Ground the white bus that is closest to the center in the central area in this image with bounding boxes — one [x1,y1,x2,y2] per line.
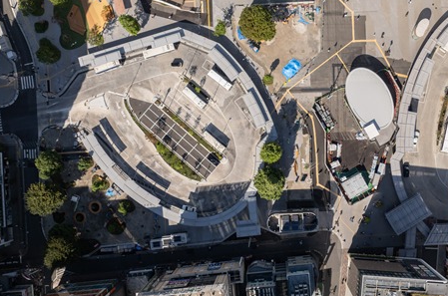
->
[201,131,229,157]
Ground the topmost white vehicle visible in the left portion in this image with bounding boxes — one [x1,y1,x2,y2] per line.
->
[144,43,177,62]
